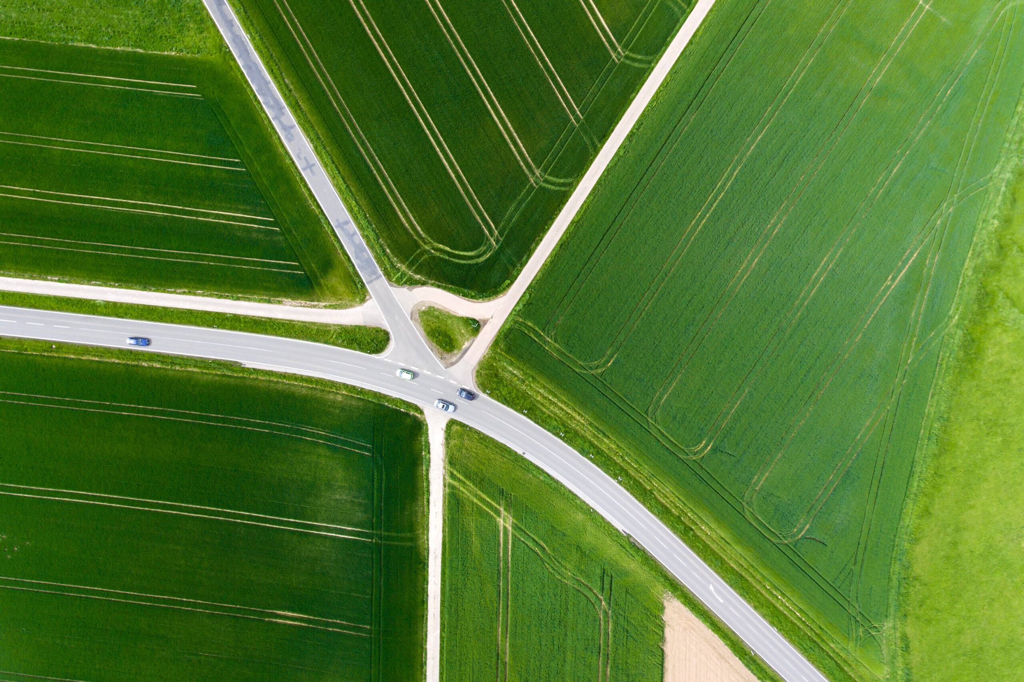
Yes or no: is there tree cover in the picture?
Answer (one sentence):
No, tree cover can't be seen anywhere here.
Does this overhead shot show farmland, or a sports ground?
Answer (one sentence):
This looks like farmland.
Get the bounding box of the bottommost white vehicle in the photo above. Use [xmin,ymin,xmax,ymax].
[433,399,456,413]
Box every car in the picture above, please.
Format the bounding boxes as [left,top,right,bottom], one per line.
[456,388,476,402]
[396,369,414,380]
[433,399,456,413]
[125,336,148,346]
